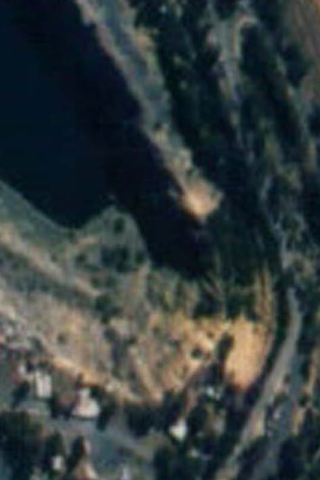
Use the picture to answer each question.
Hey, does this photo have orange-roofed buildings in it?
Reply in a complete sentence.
No, I can't see a single orange-roofed building in this photo.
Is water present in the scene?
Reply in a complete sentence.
Yes, the picture does contain water.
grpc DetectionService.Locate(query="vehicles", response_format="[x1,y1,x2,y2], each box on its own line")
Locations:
[272,409,279,419]
[123,471,128,480]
